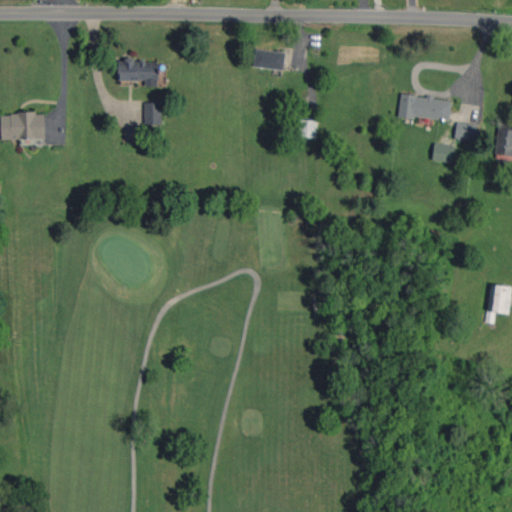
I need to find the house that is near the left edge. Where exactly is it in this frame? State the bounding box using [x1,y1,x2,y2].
[1,113,45,140]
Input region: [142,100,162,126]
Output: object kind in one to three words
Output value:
building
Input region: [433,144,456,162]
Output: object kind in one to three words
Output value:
shed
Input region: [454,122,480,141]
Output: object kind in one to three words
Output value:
building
